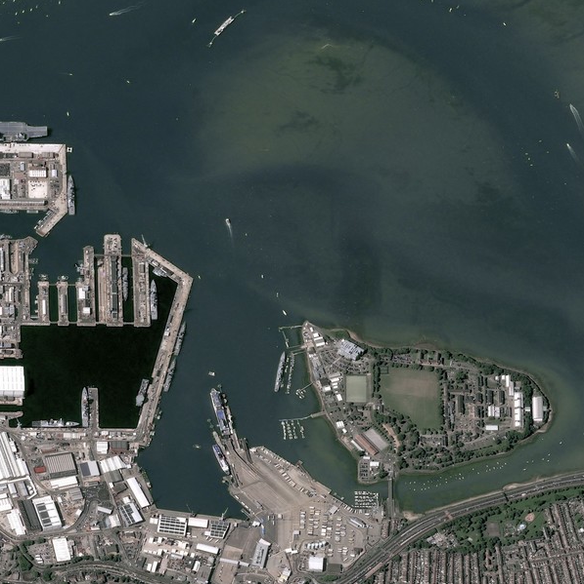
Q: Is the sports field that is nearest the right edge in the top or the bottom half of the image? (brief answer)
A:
bottom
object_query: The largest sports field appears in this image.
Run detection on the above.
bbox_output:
[378,365,443,429]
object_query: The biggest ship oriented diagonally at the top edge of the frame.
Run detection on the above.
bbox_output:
[214,16,235,35]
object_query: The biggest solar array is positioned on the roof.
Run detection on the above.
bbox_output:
[159,518,186,534]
